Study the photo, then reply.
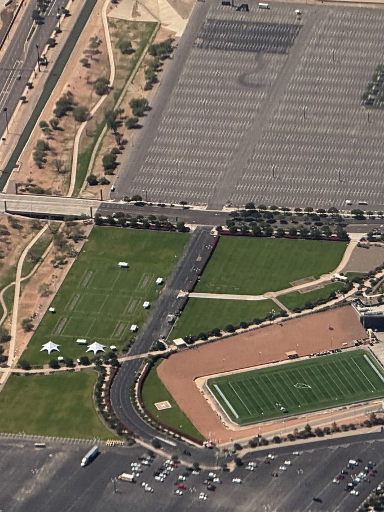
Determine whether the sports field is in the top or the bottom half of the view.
bottom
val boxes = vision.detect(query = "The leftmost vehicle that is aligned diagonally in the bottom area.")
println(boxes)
[78,449,99,465]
